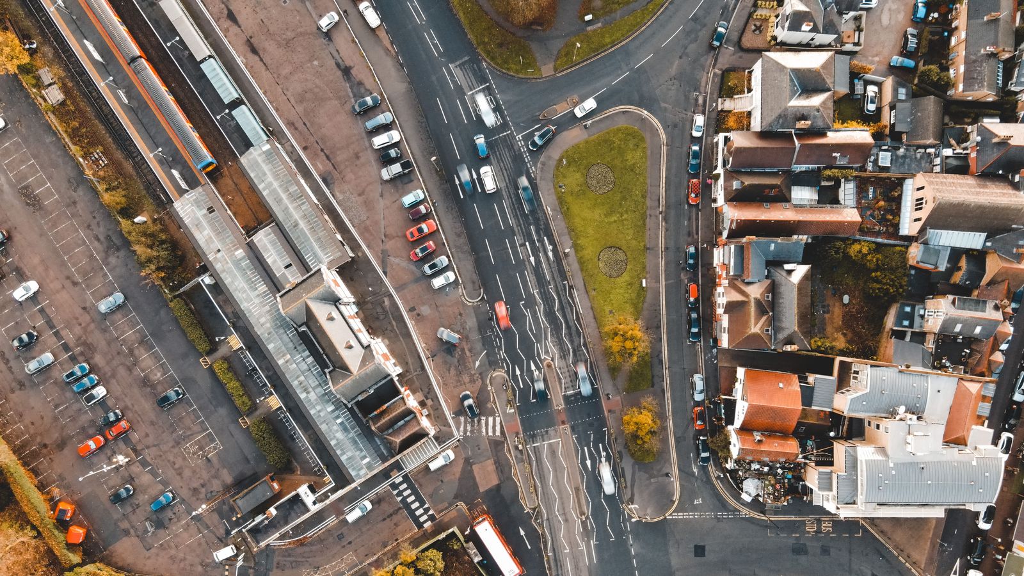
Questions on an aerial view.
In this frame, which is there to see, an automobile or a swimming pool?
automobile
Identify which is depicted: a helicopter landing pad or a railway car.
railway car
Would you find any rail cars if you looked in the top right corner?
No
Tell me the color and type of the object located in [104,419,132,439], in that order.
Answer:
red car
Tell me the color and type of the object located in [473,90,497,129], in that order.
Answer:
white vehicle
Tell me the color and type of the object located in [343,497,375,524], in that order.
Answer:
white vehicle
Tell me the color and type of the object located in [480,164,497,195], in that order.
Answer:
white car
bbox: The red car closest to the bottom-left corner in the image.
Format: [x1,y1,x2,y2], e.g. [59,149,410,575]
[77,436,106,456]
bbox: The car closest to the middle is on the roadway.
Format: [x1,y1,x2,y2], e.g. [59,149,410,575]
[495,301,510,328]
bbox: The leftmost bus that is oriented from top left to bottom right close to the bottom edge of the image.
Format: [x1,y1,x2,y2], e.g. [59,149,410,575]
[465,513,521,576]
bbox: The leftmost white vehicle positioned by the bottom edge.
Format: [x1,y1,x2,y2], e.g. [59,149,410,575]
[208,541,241,565]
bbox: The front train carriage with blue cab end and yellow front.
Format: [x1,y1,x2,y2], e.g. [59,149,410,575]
[132,54,222,170]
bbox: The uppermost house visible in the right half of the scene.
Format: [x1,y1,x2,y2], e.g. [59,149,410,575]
[766,0,861,44]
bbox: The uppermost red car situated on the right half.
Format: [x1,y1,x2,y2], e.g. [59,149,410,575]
[687,177,701,204]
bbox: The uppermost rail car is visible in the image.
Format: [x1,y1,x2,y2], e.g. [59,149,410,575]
[90,0,152,62]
